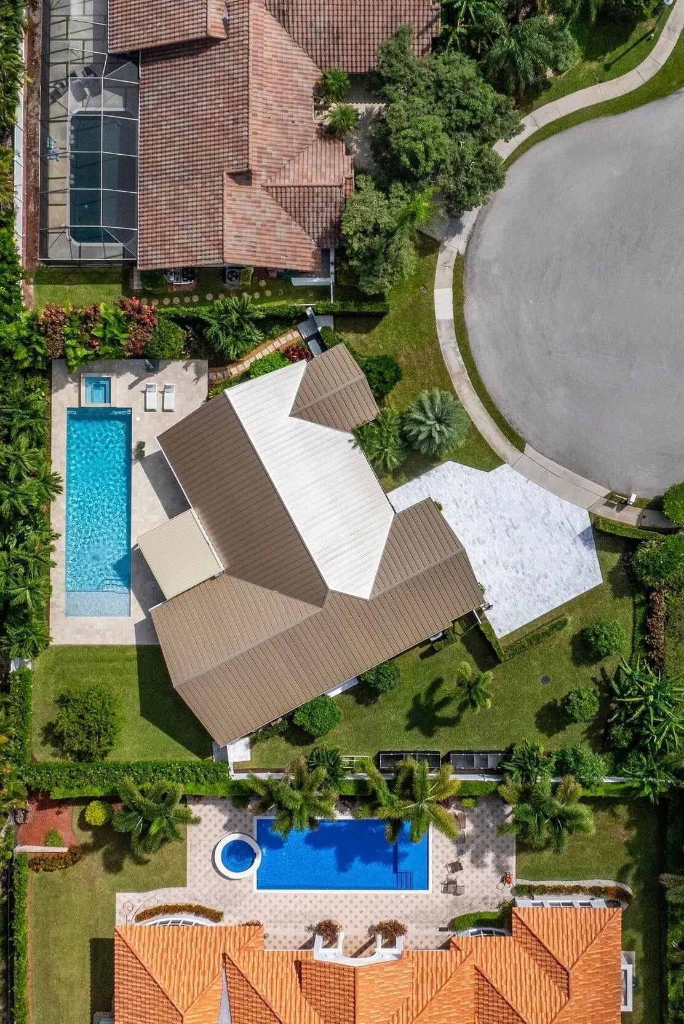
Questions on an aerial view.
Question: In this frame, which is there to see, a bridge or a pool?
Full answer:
There is a pool in the scene.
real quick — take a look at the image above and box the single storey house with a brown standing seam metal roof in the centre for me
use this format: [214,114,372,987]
[135,343,491,762]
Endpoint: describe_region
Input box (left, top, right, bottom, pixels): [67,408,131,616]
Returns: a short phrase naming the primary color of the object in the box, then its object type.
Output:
blue swimming pool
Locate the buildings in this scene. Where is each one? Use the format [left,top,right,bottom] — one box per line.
[107,0,440,271]
[114,892,623,1024]
[135,343,491,762]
